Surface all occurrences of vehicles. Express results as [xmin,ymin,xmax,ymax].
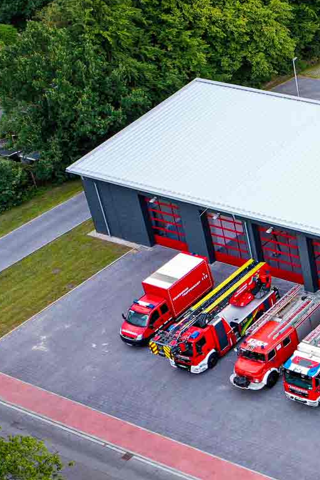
[234,282,320,390]
[149,260,279,376]
[278,320,320,410]
[118,253,215,350]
